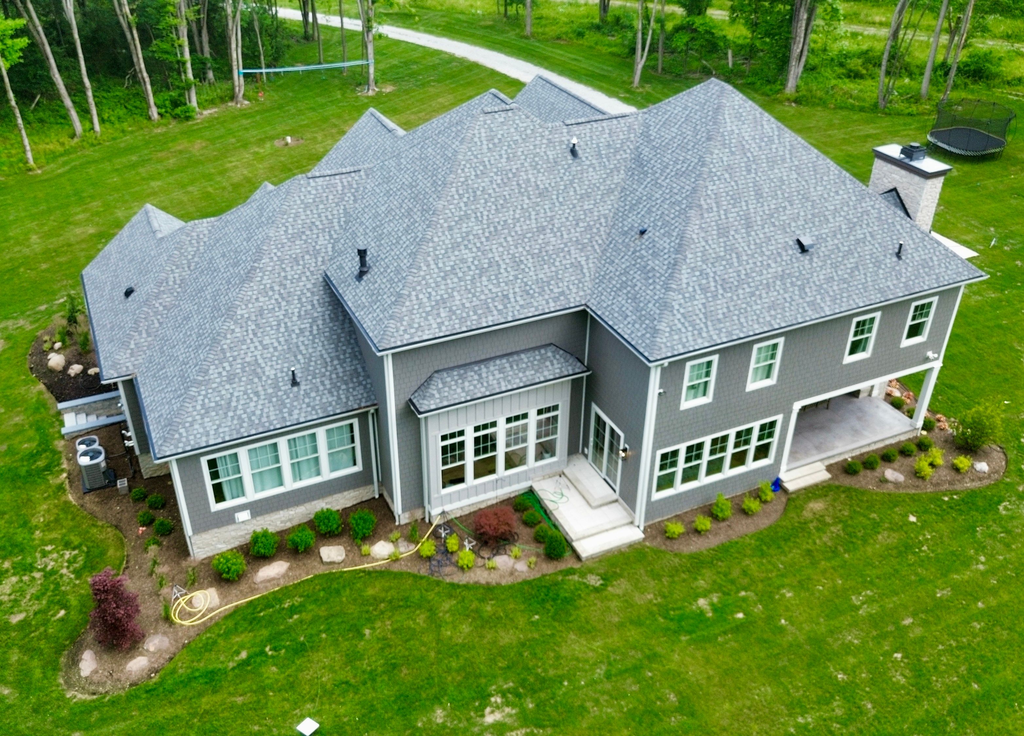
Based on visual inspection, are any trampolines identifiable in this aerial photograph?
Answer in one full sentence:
Yes, the picture does show a trampoline.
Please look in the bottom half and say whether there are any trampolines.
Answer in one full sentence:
No, in the bottom half there is no trampoline.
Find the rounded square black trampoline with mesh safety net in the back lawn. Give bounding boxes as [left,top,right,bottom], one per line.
[927,100,1016,163]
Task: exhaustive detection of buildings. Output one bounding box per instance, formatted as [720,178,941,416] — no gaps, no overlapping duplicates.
[77,73,995,560]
